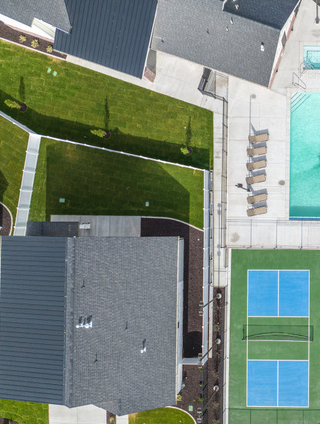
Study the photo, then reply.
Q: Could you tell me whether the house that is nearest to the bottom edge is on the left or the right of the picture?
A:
left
